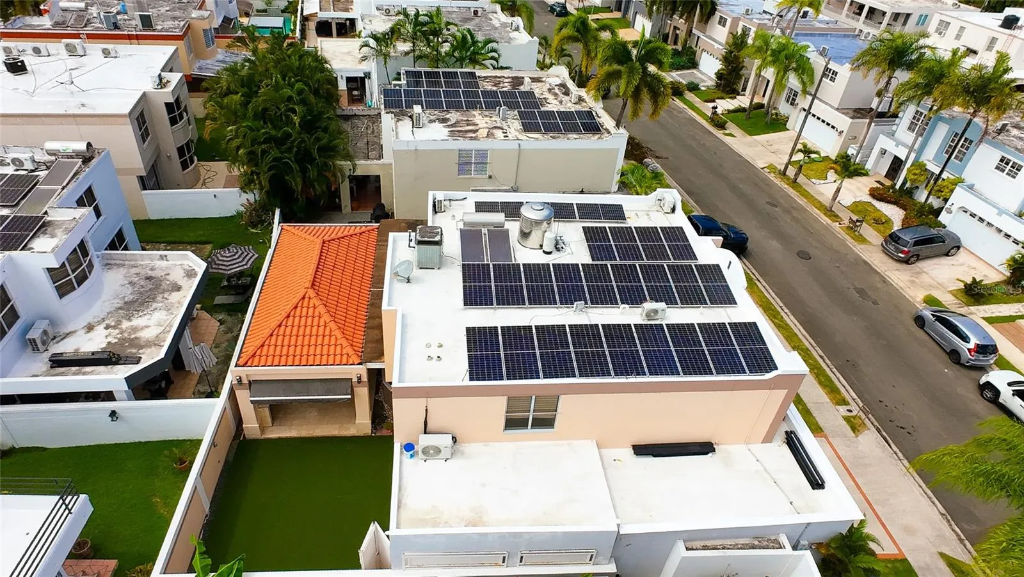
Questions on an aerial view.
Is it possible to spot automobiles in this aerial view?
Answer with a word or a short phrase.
Yes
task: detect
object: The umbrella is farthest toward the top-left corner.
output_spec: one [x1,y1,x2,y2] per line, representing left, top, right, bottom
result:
[202,242,263,282]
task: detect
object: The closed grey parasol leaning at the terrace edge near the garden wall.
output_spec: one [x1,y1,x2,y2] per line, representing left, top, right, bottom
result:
[178,353,212,395]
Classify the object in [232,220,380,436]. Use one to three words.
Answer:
gazebo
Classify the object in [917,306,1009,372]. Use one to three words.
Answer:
car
